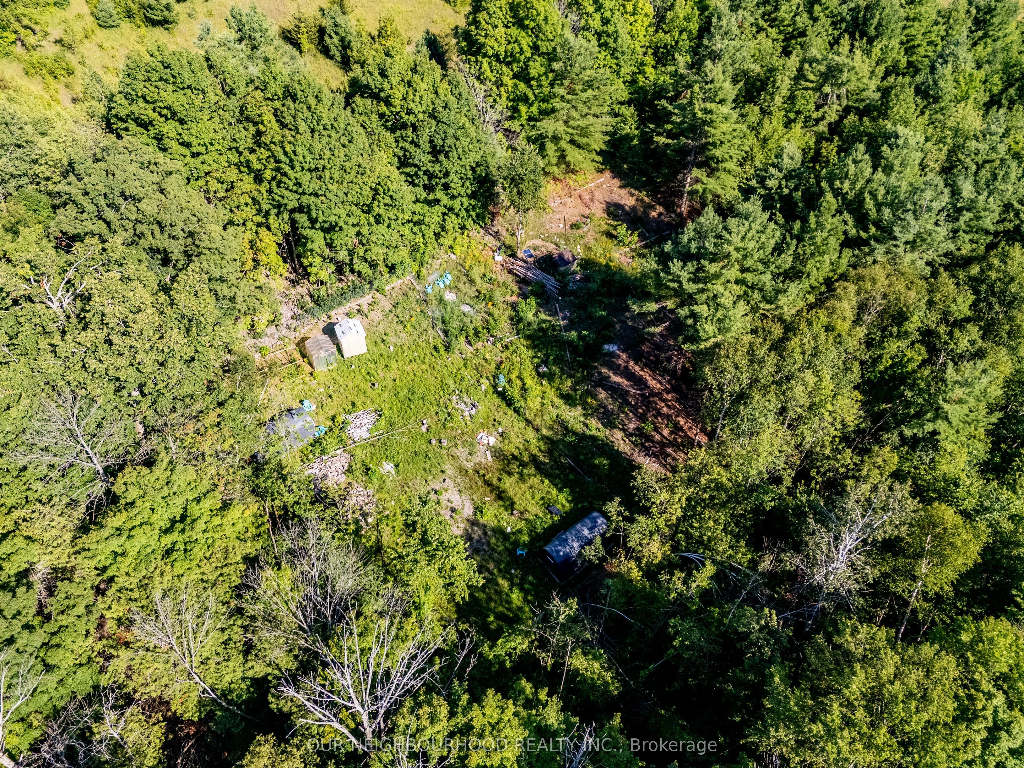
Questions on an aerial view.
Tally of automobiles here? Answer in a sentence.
Not a single automobile can be seen.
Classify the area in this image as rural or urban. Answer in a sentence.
The area shown here is rural.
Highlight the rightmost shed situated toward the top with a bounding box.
[550,249,579,276]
